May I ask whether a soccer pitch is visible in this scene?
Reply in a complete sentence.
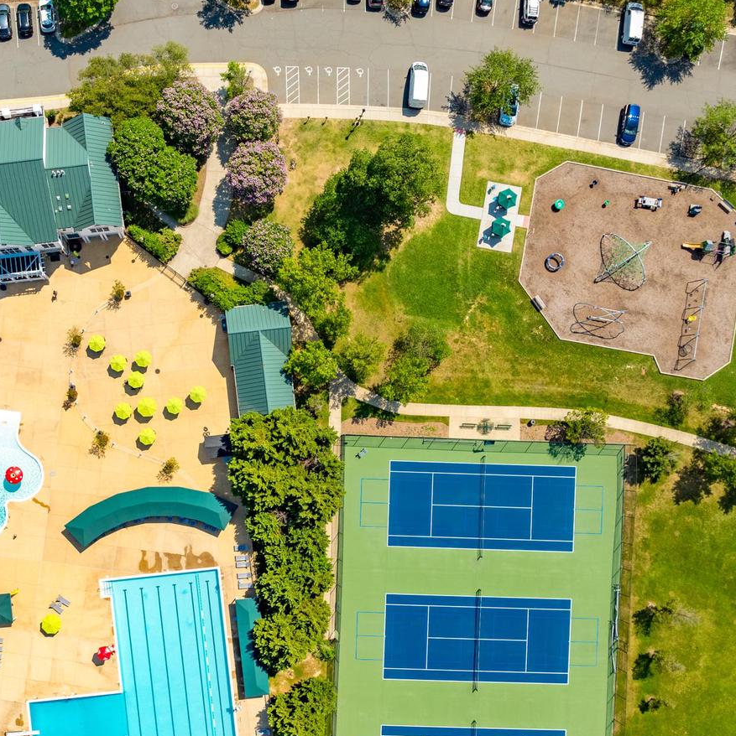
No, no soccer pitch can be seen from above.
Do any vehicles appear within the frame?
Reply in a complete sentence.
Yes, a vehicle appears in the view.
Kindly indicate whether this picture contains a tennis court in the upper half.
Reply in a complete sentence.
No, I can find no tennis court in the upper half.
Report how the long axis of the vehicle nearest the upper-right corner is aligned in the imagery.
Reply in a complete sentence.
The vehicle nearest the upper-right corner runs up and down in the image.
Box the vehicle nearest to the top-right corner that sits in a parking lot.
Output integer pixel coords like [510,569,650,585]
[619,2,645,51]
